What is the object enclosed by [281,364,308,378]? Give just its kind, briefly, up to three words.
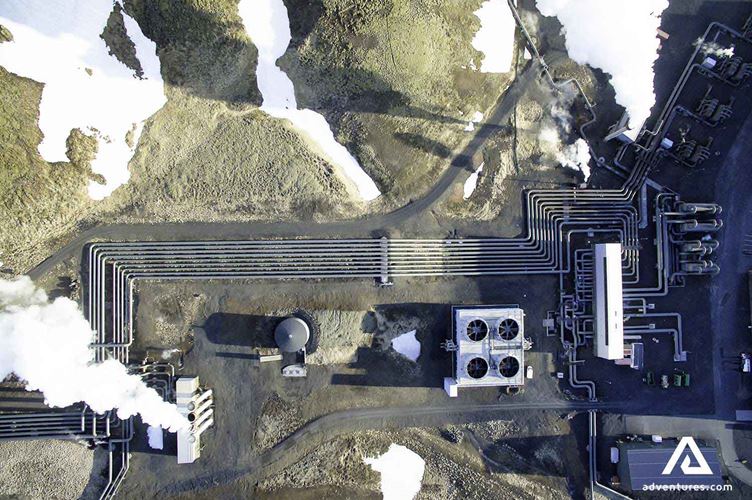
building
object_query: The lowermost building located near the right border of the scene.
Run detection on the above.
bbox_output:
[614,438,723,491]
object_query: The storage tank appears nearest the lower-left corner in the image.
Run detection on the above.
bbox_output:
[273,315,311,353]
